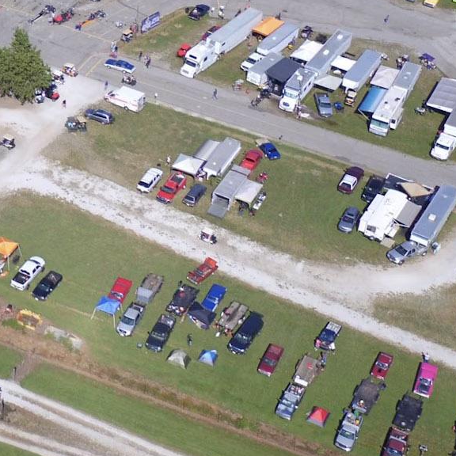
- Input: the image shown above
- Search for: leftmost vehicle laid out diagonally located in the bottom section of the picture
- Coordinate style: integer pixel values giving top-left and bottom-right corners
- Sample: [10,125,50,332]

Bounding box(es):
[12,257,43,293]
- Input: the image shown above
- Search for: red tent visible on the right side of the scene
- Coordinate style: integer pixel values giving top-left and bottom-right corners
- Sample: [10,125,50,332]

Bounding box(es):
[305,407,331,427]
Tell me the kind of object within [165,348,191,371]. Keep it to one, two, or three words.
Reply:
tent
